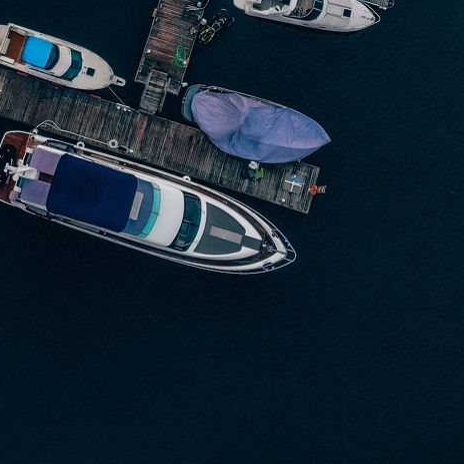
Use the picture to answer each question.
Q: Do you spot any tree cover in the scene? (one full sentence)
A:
No, the scene doesn't show any tree cover.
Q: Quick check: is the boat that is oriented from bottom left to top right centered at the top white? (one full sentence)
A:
No, the boat that is oriented from bottom left to top right centered at the top is black.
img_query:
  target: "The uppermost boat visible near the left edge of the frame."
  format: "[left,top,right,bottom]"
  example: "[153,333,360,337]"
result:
[0,23,122,87]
